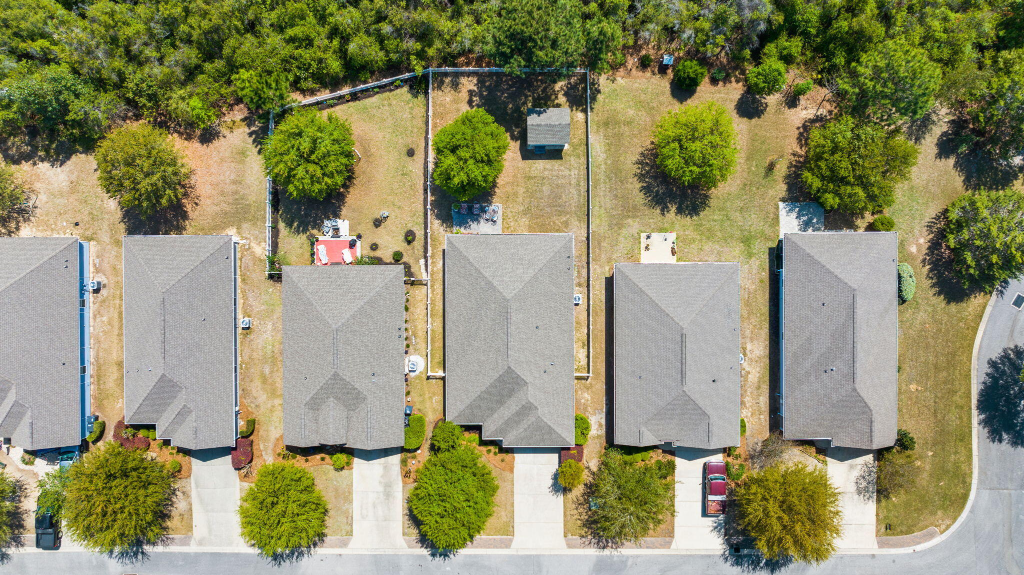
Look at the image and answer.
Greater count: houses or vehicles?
houses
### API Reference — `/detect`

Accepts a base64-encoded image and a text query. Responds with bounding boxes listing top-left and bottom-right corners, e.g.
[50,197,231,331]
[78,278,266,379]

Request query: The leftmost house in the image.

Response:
[0,237,93,451]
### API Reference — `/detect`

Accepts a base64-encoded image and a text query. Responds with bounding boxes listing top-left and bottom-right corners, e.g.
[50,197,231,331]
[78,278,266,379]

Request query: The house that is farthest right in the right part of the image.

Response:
[779,232,898,450]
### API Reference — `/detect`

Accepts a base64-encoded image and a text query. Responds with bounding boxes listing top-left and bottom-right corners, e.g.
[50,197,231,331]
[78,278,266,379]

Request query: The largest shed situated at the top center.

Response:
[527,108,571,155]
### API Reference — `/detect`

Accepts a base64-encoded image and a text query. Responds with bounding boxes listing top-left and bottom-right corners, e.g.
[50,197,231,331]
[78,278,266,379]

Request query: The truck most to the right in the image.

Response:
[706,459,730,516]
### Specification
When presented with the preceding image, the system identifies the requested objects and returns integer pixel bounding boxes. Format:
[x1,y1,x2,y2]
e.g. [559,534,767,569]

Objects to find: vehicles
[706,459,730,516]
[58,447,84,490]
[29,495,60,550]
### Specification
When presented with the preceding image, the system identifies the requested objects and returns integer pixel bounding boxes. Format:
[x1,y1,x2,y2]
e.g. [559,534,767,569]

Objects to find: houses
[283,266,404,450]
[613,263,741,450]
[445,234,575,448]
[0,237,93,451]
[123,235,239,449]
[779,232,898,450]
